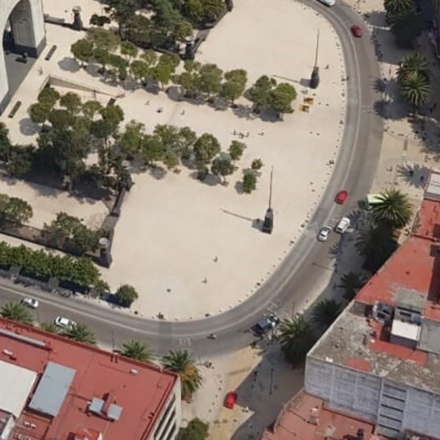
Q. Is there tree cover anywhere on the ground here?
Yes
